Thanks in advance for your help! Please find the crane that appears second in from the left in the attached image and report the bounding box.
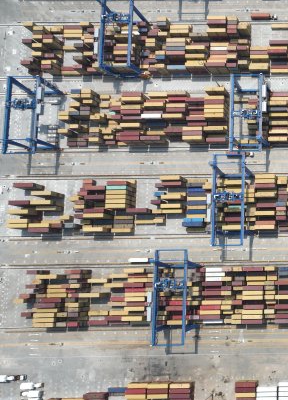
[95,0,152,78]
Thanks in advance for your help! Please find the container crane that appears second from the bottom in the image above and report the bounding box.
[207,154,256,245]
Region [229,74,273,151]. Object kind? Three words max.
container crane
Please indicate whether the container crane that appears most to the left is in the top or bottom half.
top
